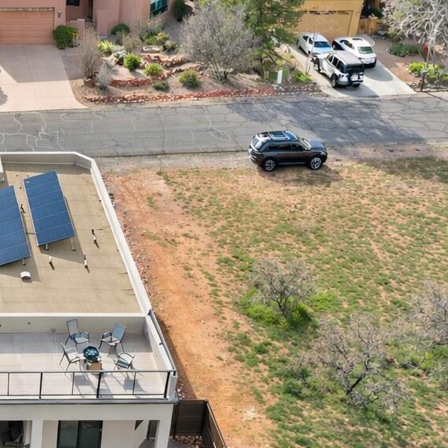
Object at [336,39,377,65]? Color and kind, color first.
white car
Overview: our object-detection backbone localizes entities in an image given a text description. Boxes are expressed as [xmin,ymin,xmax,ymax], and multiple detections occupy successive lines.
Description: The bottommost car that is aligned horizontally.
[245,133,333,172]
